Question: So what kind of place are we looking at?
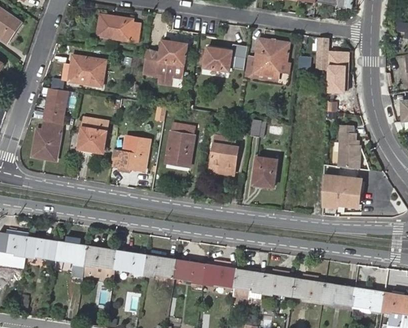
residential area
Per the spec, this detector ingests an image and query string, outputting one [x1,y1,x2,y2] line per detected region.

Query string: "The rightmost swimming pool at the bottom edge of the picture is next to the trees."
[124,292,141,314]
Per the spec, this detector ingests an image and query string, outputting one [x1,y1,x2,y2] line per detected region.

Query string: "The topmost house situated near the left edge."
[0,6,22,46]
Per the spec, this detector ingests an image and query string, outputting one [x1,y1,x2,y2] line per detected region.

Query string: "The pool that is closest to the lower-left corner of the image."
[97,281,111,306]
